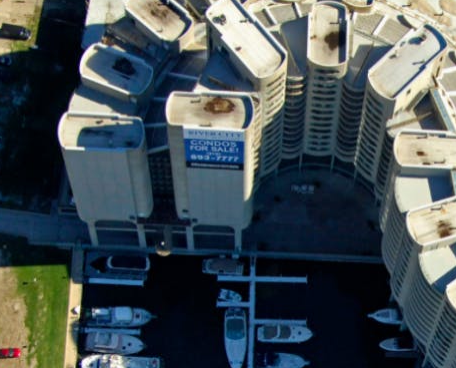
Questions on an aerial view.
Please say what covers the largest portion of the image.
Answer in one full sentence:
The bulk of the photo consists of buildings.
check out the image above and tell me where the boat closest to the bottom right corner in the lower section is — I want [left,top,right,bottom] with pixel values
[380,337,420,352]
